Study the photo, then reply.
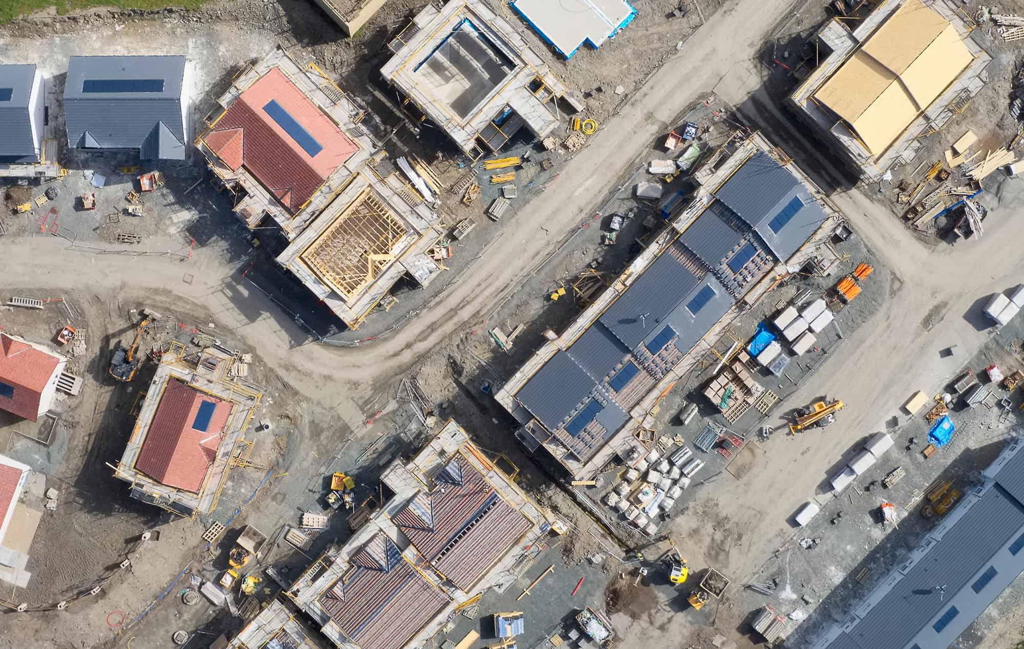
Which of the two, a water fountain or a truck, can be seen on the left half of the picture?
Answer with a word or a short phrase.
truck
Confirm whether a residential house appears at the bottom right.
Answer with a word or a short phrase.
Yes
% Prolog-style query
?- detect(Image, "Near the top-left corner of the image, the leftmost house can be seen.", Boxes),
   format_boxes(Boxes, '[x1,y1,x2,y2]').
[0,63,48,170]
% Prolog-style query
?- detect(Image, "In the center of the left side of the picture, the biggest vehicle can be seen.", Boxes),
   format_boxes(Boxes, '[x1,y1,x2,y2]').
[103,306,161,386]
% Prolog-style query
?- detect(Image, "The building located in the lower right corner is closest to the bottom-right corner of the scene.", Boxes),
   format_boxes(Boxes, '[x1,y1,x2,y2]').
[810,438,1024,649]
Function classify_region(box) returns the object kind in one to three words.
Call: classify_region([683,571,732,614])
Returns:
truck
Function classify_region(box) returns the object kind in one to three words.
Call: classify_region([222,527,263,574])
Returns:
truck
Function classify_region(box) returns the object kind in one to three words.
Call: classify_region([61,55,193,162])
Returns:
house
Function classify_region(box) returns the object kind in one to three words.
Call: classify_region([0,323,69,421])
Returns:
house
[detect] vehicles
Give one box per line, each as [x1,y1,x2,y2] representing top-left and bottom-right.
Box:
[103,306,161,386]
[774,398,847,438]
[222,527,263,574]
[683,571,732,614]
[660,532,694,589]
